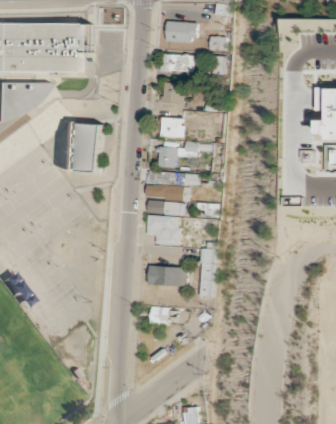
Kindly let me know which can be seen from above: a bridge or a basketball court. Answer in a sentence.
The one in the frame is a basketball court.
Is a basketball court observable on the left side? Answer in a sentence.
Yes, on the left side there is a basketball court.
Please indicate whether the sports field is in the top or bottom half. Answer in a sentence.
The bottom half of the photo is where the sports field is.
